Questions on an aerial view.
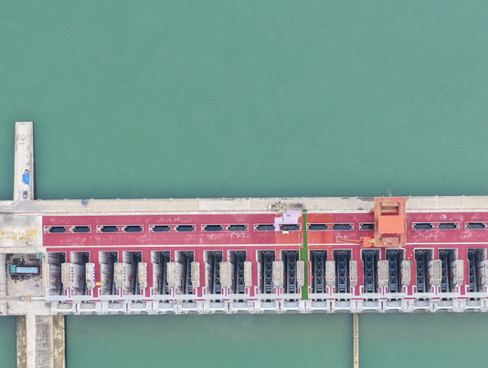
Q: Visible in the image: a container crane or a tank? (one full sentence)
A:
Visible in the photo is a container crane.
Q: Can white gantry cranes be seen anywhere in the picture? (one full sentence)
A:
No, no white gantry crane can be seen from above.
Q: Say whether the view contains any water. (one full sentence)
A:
Yes, there is water in the image.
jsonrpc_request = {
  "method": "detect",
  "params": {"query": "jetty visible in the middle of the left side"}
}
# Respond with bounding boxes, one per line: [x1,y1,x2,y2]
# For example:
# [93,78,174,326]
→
[14,122,36,202]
